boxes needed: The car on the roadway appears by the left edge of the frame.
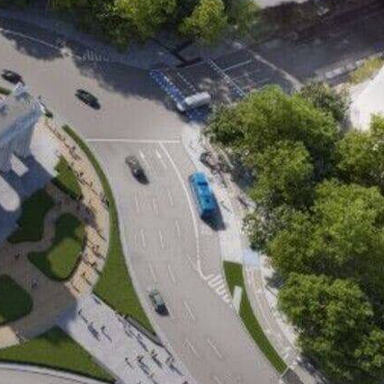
[1,68,22,81]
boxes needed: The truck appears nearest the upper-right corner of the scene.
[180,88,215,112]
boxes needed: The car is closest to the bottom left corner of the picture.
[148,287,167,310]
